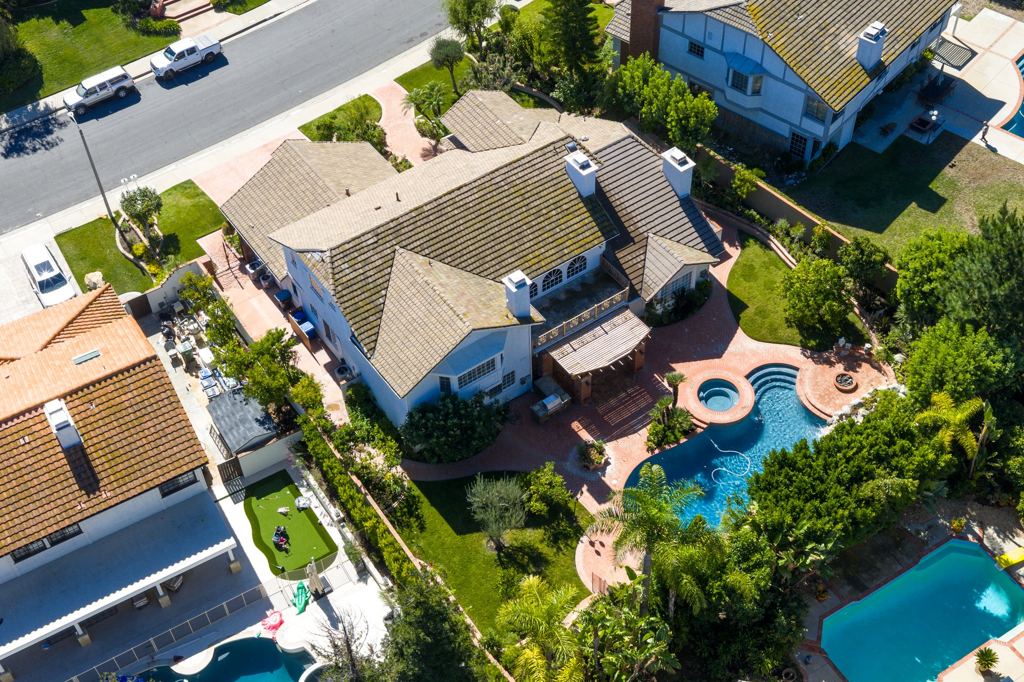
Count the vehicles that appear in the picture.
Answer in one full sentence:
I count 3 vehicles.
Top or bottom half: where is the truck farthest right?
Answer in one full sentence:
The truck farthest right sits in the top half of the picture.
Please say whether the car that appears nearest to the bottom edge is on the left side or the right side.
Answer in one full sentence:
The car that appears nearest to the bottom edge sits on the left side.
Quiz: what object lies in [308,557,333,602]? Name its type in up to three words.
umbrella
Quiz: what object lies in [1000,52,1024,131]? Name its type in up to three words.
swimming pool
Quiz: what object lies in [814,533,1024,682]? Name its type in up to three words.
swimming pool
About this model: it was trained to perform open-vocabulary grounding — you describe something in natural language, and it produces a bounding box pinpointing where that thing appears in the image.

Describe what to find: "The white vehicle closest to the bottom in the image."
[21,245,75,307]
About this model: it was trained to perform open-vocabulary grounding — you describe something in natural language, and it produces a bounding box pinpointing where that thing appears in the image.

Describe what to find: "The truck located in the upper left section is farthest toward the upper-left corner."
[55,59,137,114]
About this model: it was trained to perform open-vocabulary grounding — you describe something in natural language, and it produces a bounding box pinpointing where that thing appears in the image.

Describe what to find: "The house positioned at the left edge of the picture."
[0,281,210,585]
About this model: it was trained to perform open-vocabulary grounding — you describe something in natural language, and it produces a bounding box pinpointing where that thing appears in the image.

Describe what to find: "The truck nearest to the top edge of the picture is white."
[144,31,222,80]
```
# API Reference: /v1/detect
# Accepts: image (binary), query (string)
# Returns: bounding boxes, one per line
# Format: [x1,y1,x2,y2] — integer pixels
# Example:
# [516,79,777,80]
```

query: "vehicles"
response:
[21,245,75,307]
[55,59,137,114]
[144,31,222,80]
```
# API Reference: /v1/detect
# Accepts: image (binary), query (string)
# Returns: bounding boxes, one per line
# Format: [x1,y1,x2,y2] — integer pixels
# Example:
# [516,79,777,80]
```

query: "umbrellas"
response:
[308,557,333,602]
[936,60,945,86]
